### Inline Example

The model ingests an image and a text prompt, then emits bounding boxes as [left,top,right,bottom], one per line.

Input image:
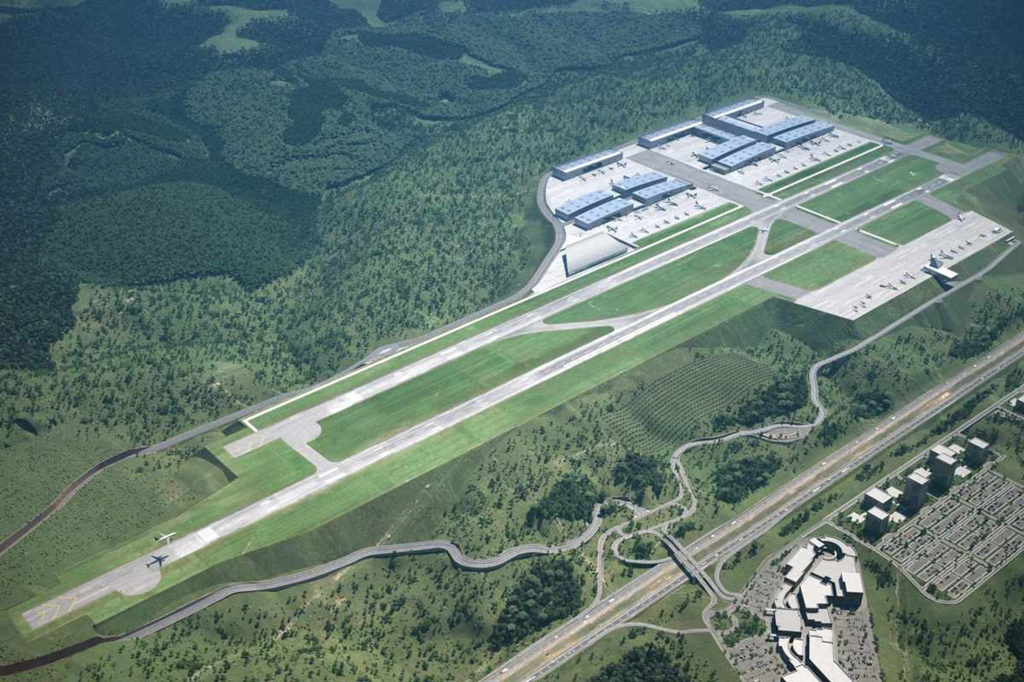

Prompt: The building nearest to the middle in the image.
[566,232,628,276]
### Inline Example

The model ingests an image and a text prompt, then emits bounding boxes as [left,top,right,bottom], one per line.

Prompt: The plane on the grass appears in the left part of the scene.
[152,530,176,544]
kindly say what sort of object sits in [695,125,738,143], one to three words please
building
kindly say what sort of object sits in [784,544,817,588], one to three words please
building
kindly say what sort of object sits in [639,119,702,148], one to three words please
shed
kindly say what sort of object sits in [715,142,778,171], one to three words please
hangar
